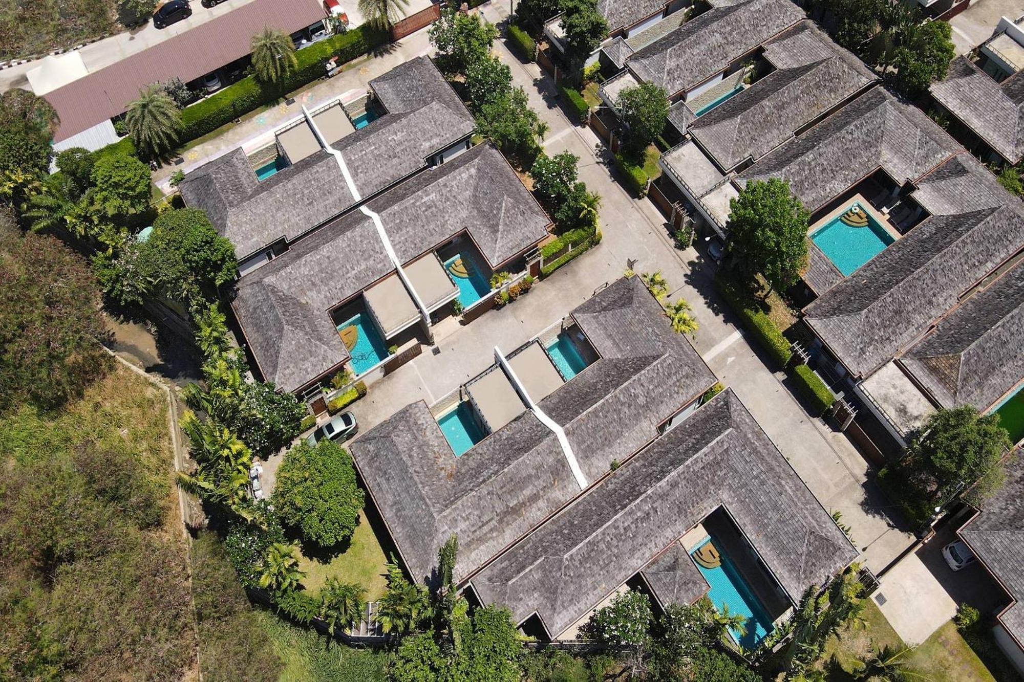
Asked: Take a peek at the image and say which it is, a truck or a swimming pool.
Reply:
swimming pool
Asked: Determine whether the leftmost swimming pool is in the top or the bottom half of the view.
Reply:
top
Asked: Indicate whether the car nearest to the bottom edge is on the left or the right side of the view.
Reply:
right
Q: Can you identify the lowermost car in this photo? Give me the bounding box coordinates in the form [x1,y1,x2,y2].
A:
[938,541,976,575]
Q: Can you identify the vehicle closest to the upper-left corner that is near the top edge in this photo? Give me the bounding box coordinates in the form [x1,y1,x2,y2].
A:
[152,0,189,22]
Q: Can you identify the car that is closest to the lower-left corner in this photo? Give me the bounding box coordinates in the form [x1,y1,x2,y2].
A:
[302,411,359,450]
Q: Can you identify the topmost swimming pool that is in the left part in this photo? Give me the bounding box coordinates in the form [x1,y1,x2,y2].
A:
[352,103,384,129]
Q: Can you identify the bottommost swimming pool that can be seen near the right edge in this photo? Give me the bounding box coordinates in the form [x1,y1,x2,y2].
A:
[981,381,1024,449]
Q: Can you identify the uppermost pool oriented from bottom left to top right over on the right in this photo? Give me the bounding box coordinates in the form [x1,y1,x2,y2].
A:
[697,79,753,119]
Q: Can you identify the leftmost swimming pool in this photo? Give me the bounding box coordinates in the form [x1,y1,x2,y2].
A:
[253,151,290,179]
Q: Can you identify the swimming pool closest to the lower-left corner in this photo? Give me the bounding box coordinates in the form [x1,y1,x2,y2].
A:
[336,310,392,377]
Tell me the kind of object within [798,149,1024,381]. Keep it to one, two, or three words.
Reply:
house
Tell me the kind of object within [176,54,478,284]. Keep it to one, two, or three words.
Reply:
house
